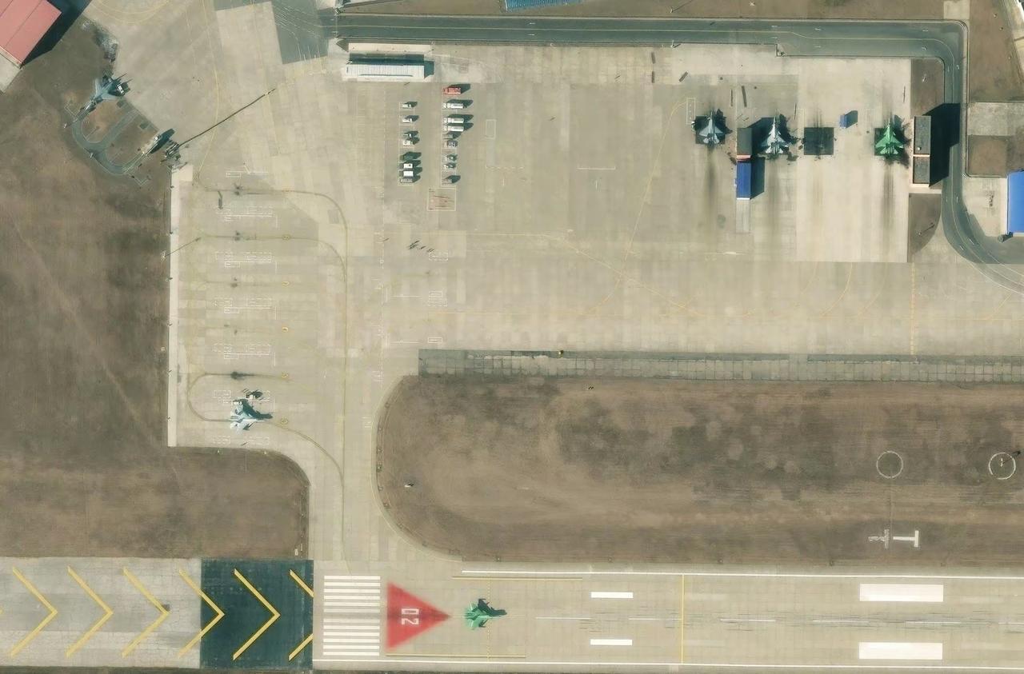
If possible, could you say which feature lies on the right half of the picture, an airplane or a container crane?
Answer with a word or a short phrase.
airplane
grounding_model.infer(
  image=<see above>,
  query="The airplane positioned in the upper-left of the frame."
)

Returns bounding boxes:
[89,75,120,106]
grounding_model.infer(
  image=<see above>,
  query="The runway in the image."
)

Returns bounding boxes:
[313,560,1024,674]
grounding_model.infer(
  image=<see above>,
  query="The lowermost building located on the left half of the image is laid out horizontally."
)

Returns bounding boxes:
[346,64,424,79]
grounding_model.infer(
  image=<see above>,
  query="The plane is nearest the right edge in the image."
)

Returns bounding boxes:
[876,119,903,155]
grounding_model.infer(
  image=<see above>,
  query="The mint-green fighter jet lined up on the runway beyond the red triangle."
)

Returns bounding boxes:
[462,603,501,630]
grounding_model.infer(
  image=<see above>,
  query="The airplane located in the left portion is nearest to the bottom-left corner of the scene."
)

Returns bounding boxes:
[227,404,265,431]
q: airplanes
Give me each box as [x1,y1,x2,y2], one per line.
[876,119,903,155]
[762,117,789,154]
[462,603,501,630]
[698,110,724,146]
[227,404,265,431]
[89,75,120,106]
